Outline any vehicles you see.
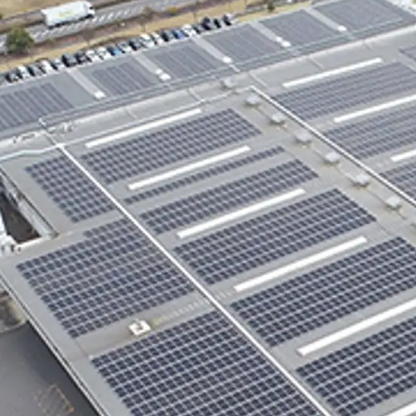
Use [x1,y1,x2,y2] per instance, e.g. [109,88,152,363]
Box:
[2,66,20,82]
[159,28,175,40]
[209,14,224,27]
[198,15,214,29]
[116,40,131,52]
[83,45,100,60]
[189,20,204,32]
[127,35,143,48]
[27,61,43,75]
[74,52,89,63]
[61,50,77,66]
[138,30,155,46]
[178,20,195,35]
[169,25,184,36]
[50,55,64,68]
[149,29,163,42]
[39,57,54,71]
[219,12,234,25]
[15,62,32,79]
[41,0,98,27]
